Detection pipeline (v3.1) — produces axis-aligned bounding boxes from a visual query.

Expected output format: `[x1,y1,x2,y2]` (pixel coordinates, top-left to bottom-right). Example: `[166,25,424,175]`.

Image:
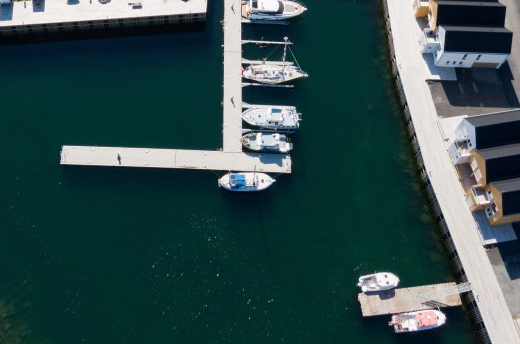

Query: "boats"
[241,132,295,154]
[215,172,275,191]
[241,42,307,83]
[242,106,305,131]
[389,311,447,335]
[356,272,400,291]
[241,0,309,19]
